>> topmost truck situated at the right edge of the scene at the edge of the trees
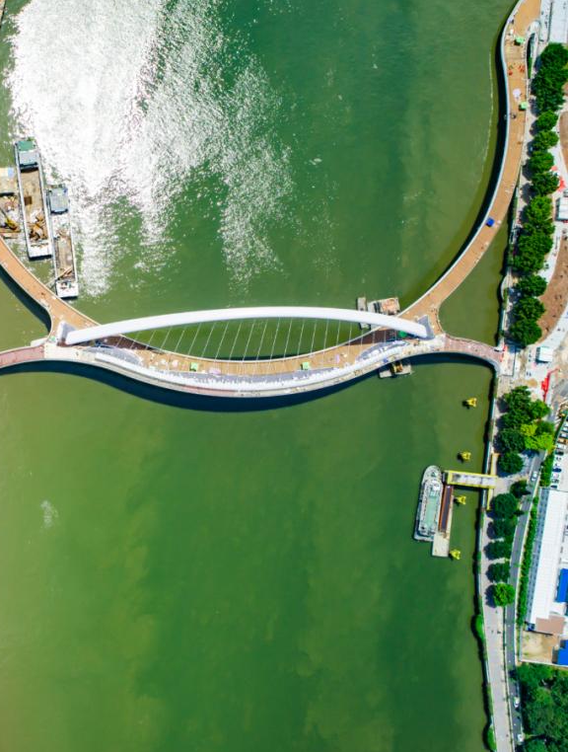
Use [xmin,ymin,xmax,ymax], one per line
[541,365,568,398]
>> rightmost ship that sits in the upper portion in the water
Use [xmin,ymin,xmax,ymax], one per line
[47,184,77,298]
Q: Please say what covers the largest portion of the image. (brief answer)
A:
water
